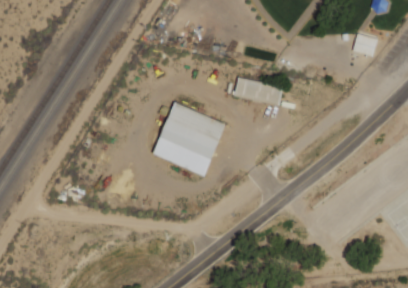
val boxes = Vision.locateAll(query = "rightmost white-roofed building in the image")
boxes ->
[355,34,378,56]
